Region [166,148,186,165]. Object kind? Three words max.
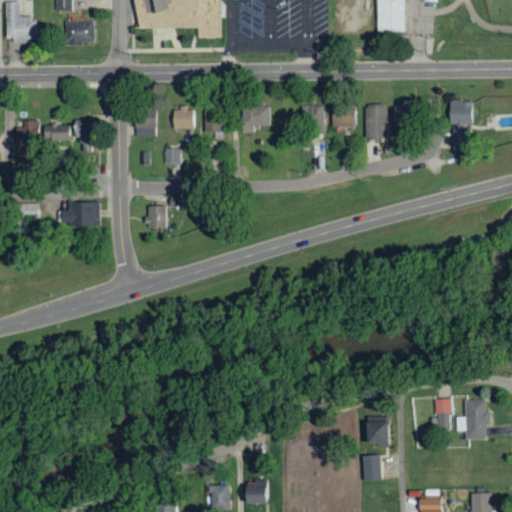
house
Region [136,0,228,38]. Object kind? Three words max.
building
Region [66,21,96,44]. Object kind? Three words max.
house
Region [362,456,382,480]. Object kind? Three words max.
building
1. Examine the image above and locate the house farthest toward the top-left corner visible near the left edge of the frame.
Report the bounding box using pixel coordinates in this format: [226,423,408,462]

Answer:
[6,1,38,41]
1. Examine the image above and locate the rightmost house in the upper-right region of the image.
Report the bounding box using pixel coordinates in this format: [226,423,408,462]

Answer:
[449,100,473,127]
